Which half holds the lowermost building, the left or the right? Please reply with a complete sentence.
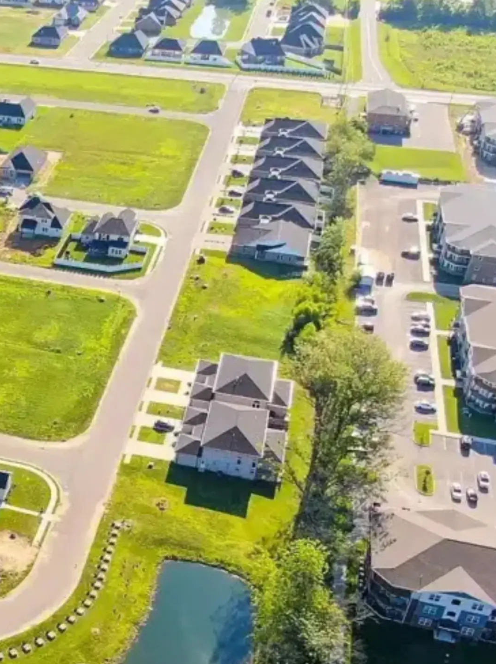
It is on the right.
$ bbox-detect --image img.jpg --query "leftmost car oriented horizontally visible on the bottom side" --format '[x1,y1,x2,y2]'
[149,415,173,429]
